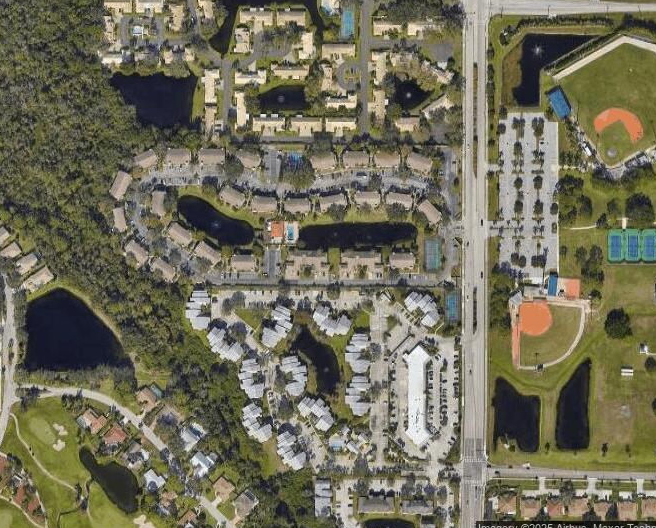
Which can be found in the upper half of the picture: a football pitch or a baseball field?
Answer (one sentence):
It is a baseball field that can be seen in the upper half of the picture.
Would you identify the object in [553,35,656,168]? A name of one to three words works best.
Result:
baseball field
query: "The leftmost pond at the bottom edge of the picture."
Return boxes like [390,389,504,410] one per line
[79,445,141,512]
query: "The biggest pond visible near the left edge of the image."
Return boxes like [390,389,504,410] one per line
[24,287,132,371]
